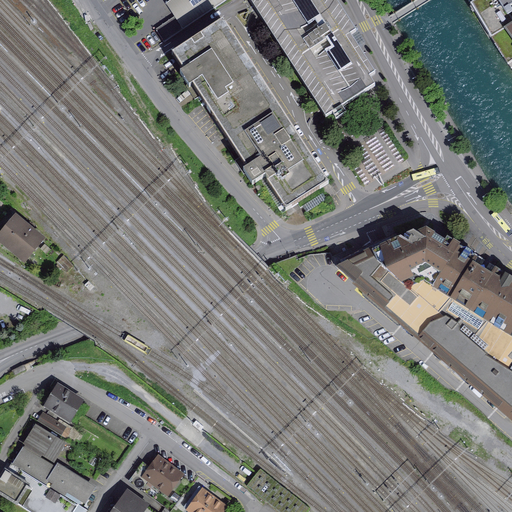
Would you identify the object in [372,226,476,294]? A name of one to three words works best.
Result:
building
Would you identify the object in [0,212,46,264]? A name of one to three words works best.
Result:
house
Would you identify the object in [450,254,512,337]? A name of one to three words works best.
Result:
building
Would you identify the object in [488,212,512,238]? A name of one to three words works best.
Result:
bus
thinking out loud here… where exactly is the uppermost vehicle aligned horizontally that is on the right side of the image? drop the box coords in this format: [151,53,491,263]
[410,167,440,180]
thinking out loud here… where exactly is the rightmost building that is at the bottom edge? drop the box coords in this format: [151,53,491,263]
[246,468,311,512]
